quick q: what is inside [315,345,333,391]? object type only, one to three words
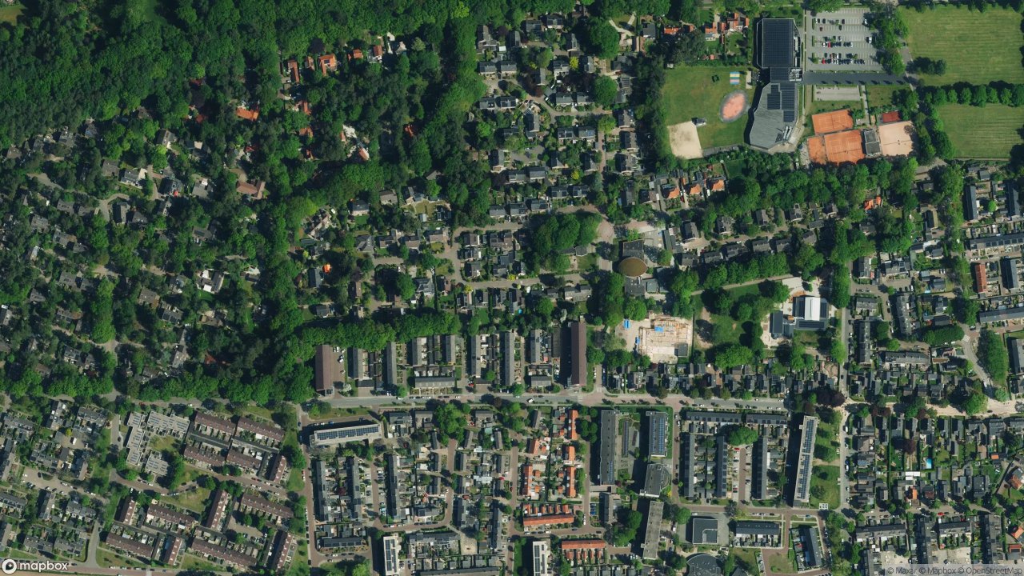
building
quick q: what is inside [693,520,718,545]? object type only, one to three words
building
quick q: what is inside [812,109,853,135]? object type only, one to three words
tennis court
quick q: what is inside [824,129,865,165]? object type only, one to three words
tennis court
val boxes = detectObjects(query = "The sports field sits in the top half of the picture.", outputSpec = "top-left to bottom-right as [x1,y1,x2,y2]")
[668,121,702,159]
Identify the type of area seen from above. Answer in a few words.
residential area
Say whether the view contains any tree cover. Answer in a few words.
Yes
